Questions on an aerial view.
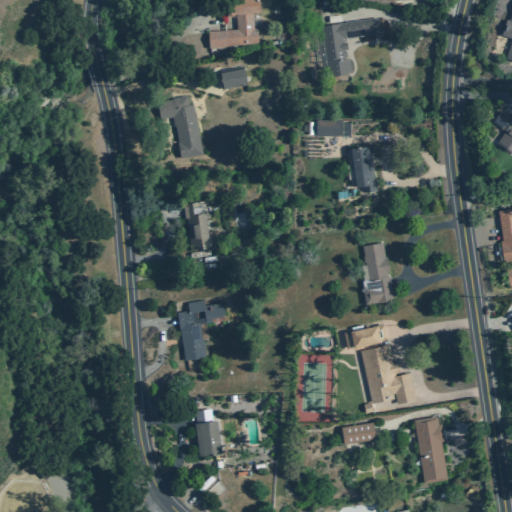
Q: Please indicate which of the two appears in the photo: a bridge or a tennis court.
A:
tennis court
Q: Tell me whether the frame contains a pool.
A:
Yes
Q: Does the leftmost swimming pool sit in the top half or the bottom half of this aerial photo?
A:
bottom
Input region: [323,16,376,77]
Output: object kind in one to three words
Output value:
house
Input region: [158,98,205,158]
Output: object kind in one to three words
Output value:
house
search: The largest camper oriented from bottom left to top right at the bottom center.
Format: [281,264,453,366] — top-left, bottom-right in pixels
[200,476,216,491]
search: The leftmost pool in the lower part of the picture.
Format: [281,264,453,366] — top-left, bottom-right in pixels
[242,416,262,448]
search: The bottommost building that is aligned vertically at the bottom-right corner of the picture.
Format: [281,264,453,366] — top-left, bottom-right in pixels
[416,416,448,483]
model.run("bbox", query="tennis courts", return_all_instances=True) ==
[298,354,334,422]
